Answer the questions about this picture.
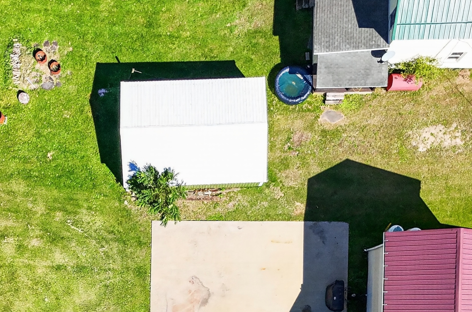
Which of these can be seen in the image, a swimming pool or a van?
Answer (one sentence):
It is a swimming pool that can be seen here.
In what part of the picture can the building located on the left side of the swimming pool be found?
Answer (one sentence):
The building located on the left side of the swimming pool is in the center part of the image.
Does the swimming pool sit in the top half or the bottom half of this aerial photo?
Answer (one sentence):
You can find the swimming pool in the top half.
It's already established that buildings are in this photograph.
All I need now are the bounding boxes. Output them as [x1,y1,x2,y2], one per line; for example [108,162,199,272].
[120,77,269,194]
[363,228,472,312]
[283,0,472,109]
